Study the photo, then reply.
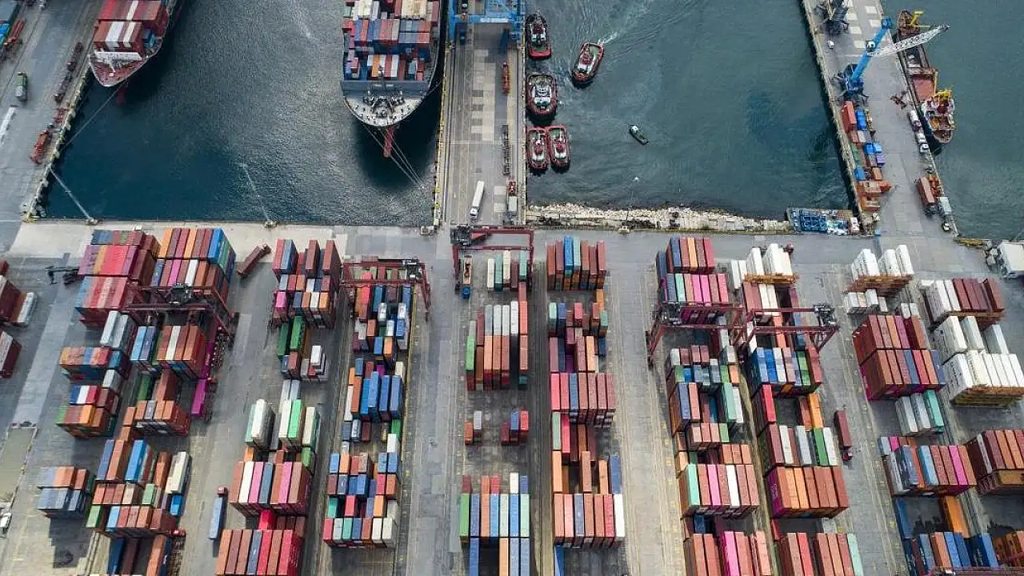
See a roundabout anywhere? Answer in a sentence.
No, the scene contains no roundabout.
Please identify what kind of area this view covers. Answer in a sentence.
This looks like a port.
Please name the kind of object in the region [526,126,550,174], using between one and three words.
boat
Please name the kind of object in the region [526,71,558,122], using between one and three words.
boat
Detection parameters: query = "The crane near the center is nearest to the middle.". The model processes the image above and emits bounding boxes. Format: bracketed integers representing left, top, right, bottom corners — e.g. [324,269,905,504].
[449,228,536,294]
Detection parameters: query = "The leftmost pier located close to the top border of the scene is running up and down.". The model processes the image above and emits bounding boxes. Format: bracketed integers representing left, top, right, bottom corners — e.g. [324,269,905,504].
[0,0,88,222]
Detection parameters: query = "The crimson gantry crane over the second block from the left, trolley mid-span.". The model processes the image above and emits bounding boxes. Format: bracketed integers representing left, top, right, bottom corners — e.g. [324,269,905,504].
[118,281,236,349]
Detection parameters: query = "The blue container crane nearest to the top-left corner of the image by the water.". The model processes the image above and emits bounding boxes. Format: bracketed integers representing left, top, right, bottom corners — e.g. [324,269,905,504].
[445,0,520,47]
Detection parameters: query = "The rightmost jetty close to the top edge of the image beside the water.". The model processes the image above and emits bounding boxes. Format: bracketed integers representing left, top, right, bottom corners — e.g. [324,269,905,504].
[800,0,956,226]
